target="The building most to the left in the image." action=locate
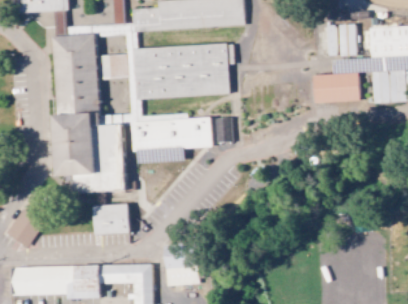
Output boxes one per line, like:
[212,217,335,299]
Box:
[7,214,40,248]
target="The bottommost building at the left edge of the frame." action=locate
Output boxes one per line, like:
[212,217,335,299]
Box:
[11,265,100,299]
